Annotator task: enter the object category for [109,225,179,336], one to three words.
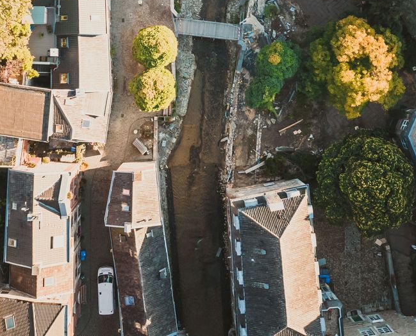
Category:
house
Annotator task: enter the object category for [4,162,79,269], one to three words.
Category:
house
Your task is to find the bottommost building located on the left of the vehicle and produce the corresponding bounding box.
[0,286,70,336]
